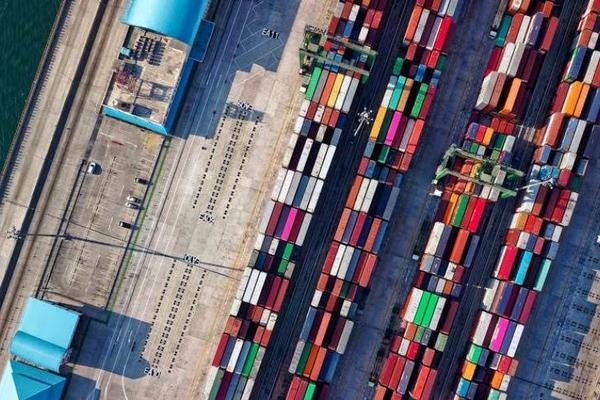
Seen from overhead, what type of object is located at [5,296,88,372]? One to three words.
shed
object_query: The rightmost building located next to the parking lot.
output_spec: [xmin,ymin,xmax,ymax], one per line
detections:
[103,0,219,137]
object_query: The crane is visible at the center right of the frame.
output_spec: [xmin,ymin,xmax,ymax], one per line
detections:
[434,147,527,201]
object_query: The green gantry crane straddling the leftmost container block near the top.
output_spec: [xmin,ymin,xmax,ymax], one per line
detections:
[297,19,380,88]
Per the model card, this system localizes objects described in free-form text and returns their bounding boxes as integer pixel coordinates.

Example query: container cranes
[297,19,380,88]
[434,147,527,201]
